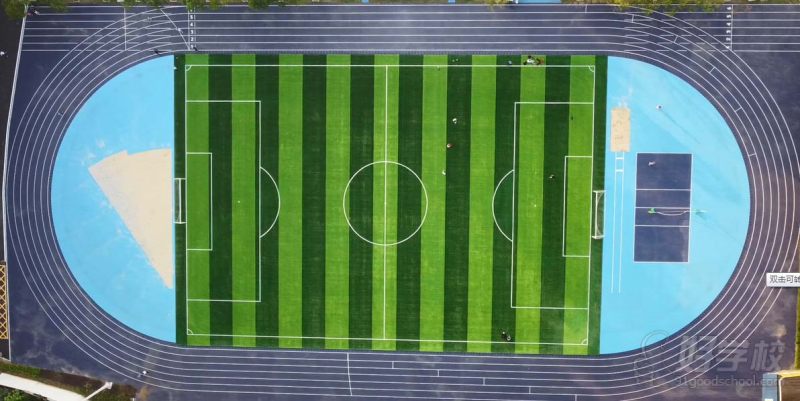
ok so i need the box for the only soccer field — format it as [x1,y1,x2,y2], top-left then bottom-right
[174,54,607,356]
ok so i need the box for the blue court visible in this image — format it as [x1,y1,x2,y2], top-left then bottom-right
[634,152,692,263]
